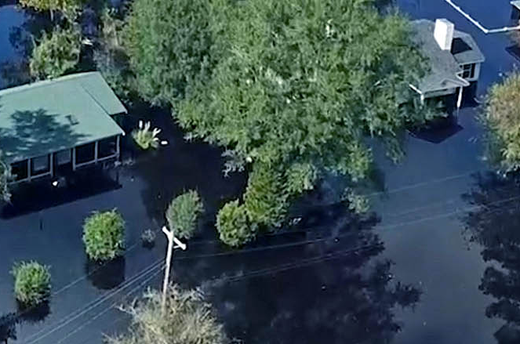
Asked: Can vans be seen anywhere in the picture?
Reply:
No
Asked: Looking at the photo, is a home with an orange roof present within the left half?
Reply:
No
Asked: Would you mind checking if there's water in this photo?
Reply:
Yes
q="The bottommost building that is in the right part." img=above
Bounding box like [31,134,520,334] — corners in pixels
[361,19,489,112]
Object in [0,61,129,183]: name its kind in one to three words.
house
